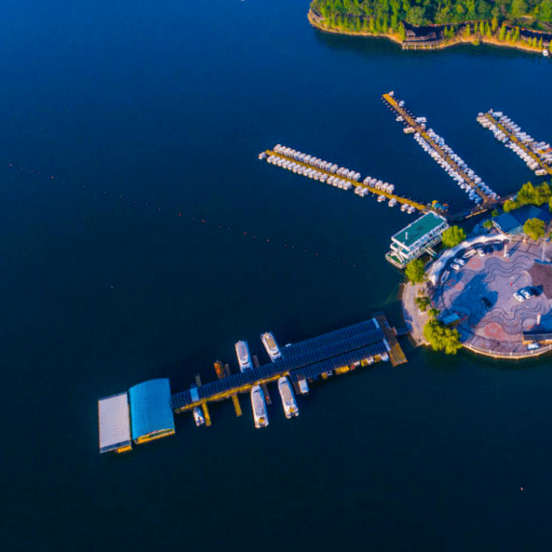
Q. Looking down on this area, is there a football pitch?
No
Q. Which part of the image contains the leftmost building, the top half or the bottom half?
bottom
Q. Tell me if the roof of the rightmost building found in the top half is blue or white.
blue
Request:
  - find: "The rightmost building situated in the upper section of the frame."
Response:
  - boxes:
[490,197,550,235]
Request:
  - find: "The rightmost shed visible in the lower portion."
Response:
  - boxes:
[522,327,552,344]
